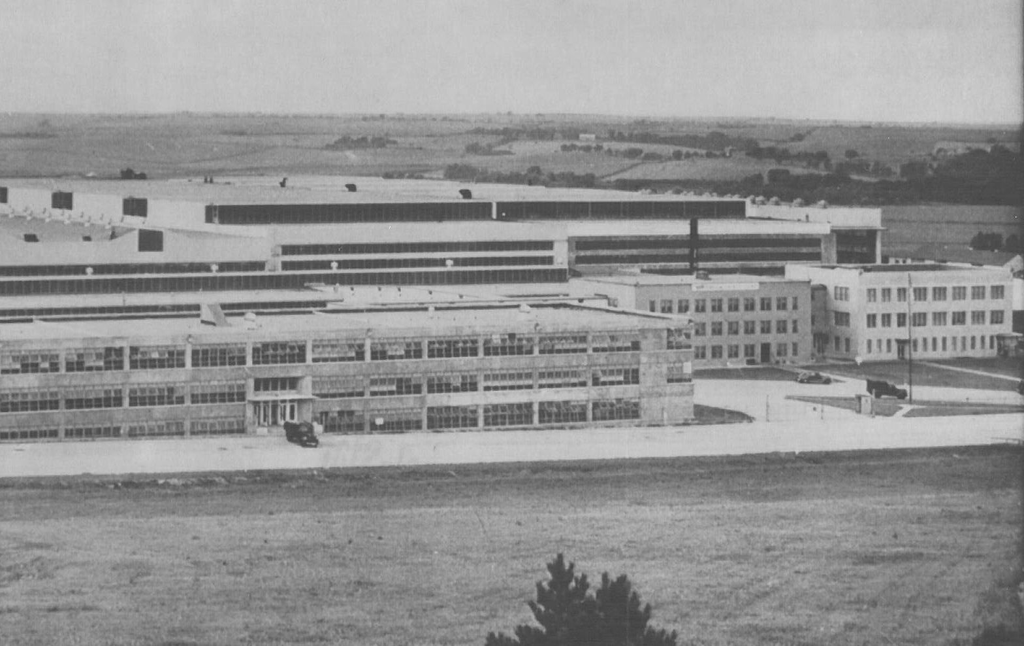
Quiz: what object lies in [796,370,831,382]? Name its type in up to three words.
vehicle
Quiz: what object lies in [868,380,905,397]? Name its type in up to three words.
vehicle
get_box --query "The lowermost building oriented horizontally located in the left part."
[0,297,694,442]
